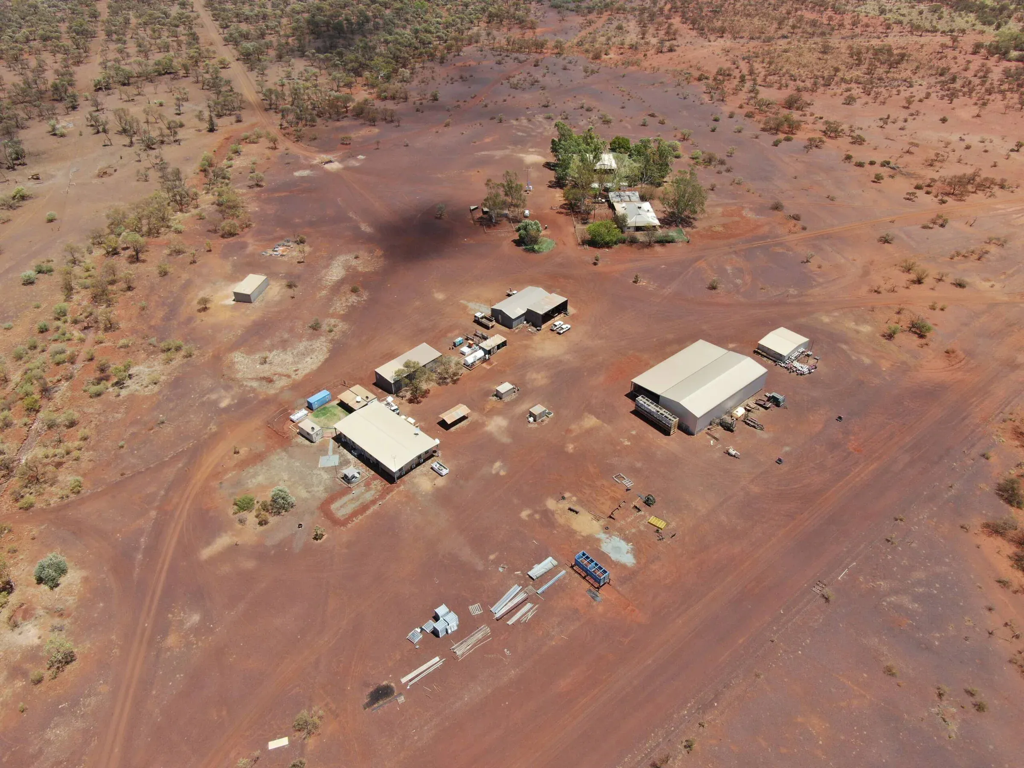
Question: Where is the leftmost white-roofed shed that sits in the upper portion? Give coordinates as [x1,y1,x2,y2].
[231,279,267,306]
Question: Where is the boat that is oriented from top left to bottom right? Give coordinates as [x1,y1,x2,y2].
[433,462,450,476]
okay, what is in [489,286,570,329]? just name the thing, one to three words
building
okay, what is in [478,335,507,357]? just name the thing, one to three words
shed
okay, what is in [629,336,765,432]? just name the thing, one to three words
shed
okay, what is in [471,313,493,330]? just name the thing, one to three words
vehicle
